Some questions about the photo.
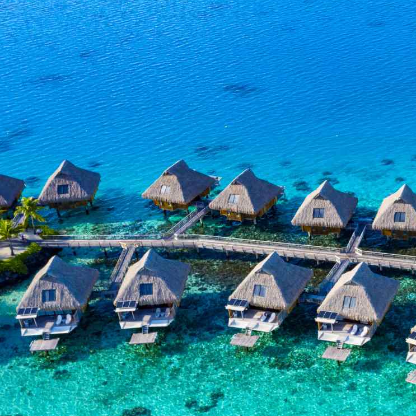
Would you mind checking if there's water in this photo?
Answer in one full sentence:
Yes, the picture does contain water.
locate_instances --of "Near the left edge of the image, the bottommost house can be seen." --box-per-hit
[14,255,98,345]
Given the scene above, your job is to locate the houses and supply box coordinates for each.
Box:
[224,250,311,342]
[38,160,103,227]
[210,168,289,235]
[112,249,189,338]
[314,261,397,354]
[373,184,416,250]
[14,255,98,345]
[293,181,357,248]
[143,159,223,222]
[0,176,28,220]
